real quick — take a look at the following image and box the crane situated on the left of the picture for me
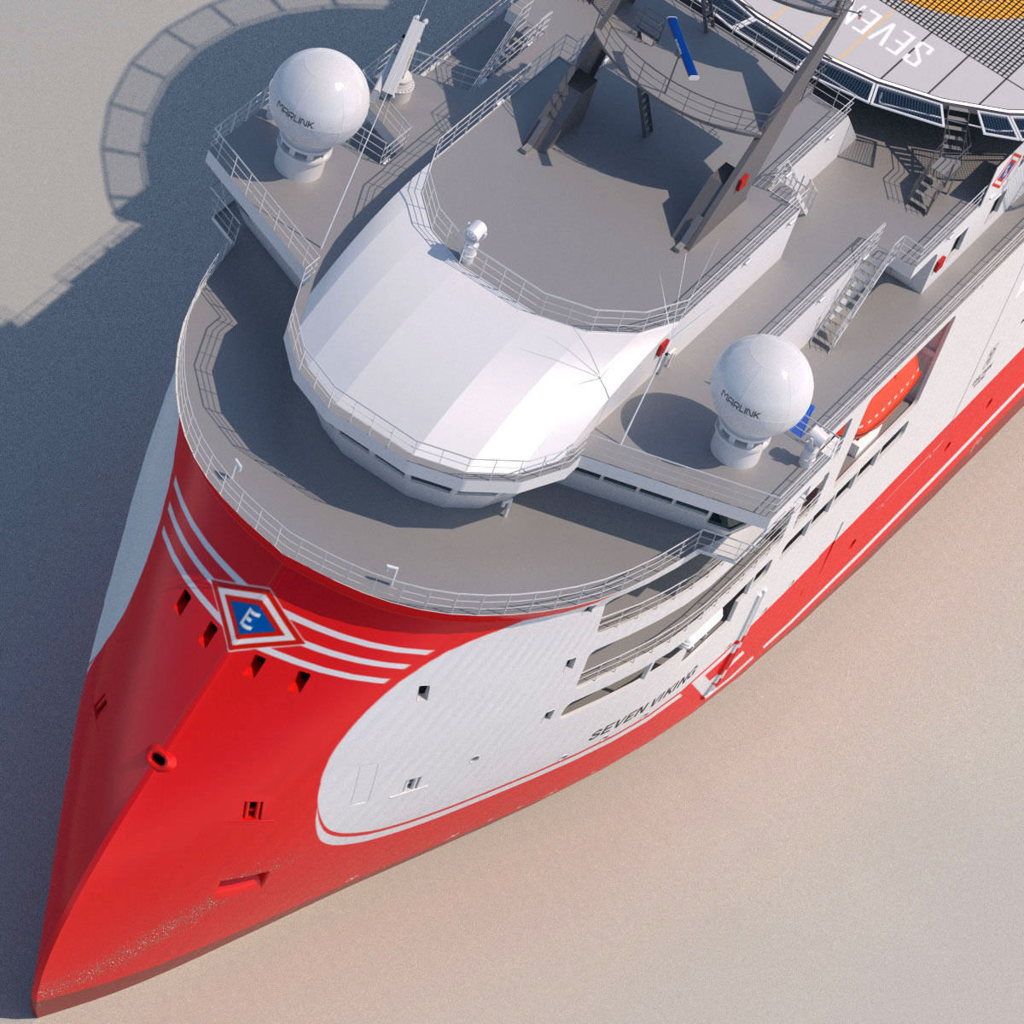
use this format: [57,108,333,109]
[362,0,439,112]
